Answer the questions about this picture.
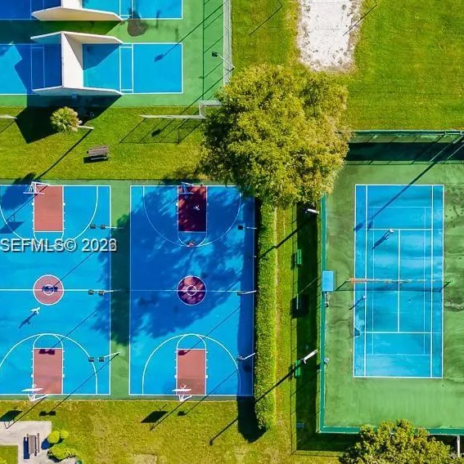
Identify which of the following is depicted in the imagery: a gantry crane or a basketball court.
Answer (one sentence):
There is a basketball court in the scene.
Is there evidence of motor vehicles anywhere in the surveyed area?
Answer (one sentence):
No, no motor vehicle is visible in the scene.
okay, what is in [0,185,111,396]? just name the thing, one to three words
basketball court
